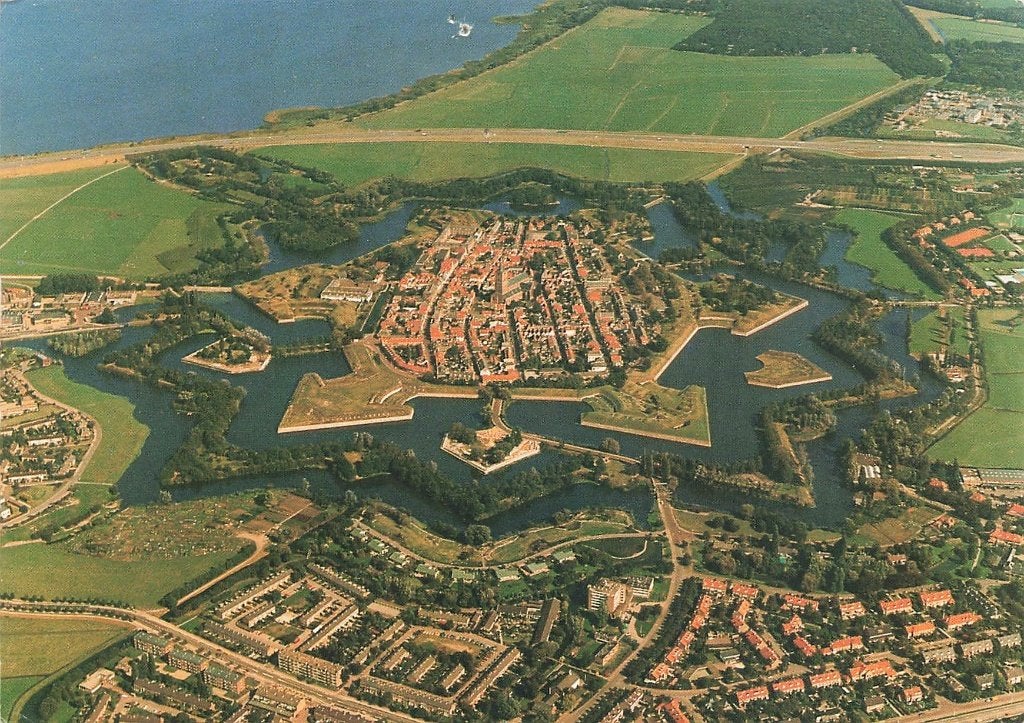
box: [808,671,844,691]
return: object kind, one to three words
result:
house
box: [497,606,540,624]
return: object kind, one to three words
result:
house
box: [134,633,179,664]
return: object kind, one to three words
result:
building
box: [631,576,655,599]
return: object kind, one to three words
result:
building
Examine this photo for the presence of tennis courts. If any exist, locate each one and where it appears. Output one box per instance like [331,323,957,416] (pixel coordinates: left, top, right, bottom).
[945,227,990,247]
[956,247,994,256]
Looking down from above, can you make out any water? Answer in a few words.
Yes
